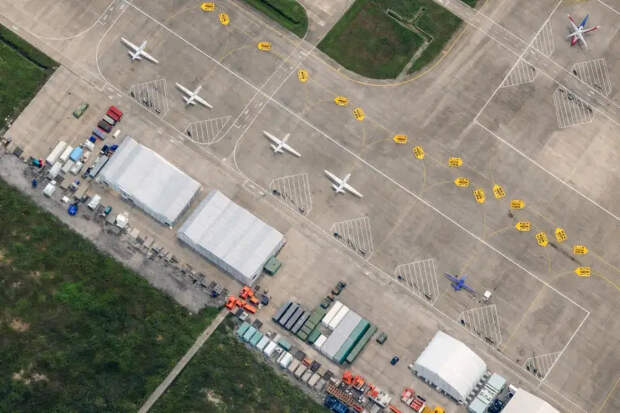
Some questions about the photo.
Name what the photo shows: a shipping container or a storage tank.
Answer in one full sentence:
There is a shipping container in the scene.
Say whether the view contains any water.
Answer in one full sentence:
No, no water is visible.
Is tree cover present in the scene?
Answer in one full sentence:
No, the scene doesn't show any tree cover.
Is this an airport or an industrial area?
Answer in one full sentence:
The picture captures an airport.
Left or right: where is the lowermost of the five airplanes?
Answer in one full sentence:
The lowermost of the five airplanes sits on the right side.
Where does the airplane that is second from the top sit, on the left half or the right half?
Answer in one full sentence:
The airplane that is second from the top appears in the left half of the scene.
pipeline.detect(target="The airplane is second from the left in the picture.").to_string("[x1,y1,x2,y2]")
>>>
[176,82,212,108]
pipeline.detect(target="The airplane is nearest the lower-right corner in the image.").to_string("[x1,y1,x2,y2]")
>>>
[444,271,477,294]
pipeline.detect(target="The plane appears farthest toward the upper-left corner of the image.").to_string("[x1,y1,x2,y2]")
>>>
[124,36,159,62]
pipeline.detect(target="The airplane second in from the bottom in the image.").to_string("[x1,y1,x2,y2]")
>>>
[325,171,362,197]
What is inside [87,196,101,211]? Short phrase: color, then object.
white vehicle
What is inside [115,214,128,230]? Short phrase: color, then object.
white vehicle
